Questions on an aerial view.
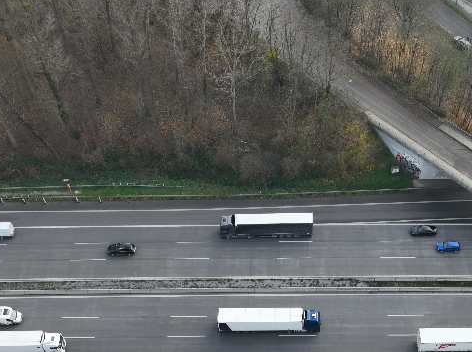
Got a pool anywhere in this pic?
No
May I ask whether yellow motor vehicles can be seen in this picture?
No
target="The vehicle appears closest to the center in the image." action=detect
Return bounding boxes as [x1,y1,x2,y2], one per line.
[219,212,313,238]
